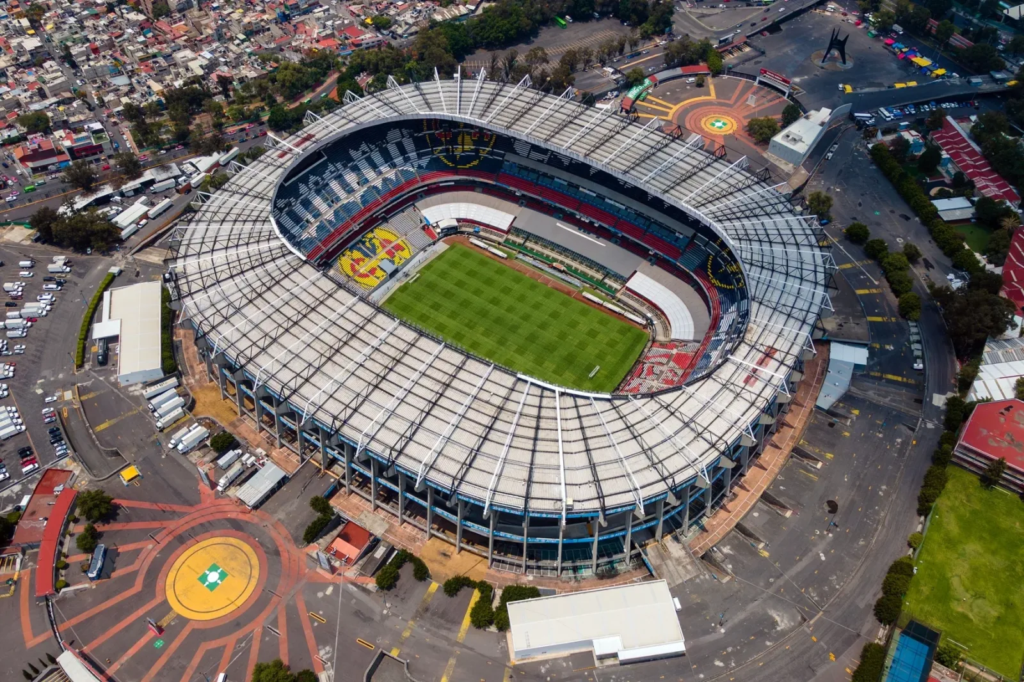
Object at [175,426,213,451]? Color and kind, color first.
white truck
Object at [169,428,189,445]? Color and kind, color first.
white vehicle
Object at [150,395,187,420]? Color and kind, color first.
white truck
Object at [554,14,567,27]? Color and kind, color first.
green vehicle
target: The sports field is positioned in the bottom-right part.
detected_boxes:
[901,468,1024,682]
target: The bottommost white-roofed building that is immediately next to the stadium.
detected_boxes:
[508,579,686,671]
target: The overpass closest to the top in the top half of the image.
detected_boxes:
[723,0,817,36]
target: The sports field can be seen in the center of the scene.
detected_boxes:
[378,243,647,392]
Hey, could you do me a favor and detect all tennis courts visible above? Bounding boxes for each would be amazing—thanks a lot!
[886,635,929,682]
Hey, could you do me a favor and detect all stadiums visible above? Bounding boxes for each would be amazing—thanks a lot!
[170,68,833,582]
